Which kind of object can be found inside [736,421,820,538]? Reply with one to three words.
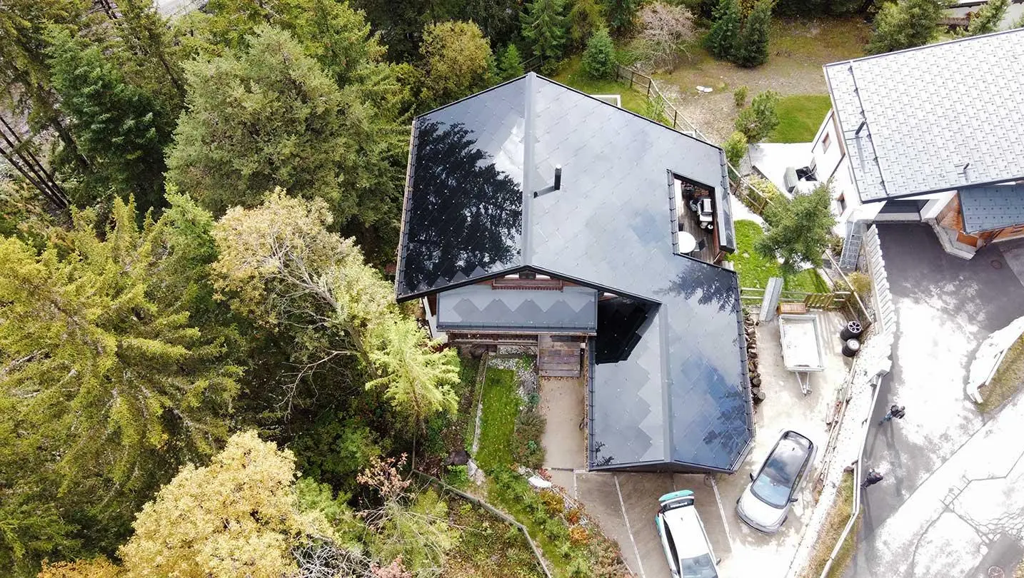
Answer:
car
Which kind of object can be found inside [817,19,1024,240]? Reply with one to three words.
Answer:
house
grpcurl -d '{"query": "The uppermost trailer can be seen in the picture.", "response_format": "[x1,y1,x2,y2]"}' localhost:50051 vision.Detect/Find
[773,314,827,401]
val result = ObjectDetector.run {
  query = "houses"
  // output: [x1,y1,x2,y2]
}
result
[392,73,758,477]
[817,19,1024,240]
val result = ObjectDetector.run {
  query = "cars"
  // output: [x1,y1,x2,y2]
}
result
[647,477,732,578]
[736,421,820,538]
